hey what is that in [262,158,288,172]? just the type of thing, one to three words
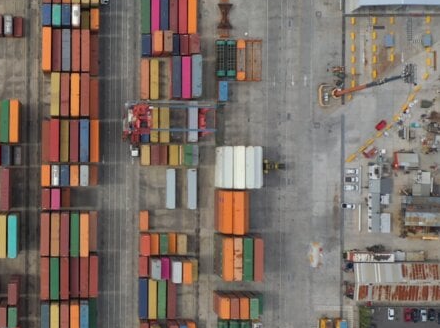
vehicle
